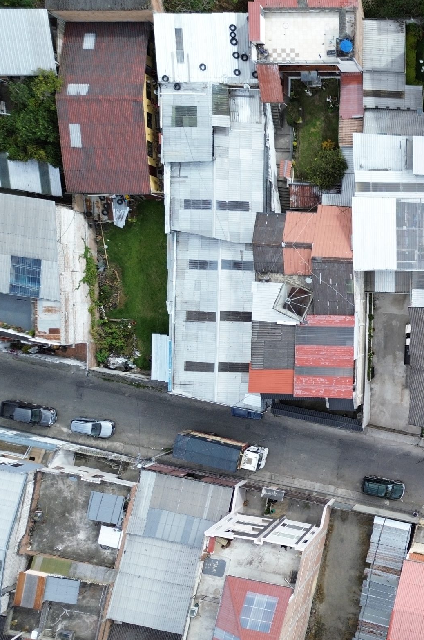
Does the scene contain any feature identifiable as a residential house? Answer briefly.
Yes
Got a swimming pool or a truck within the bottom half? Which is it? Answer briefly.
truck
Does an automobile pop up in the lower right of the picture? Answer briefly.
Yes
